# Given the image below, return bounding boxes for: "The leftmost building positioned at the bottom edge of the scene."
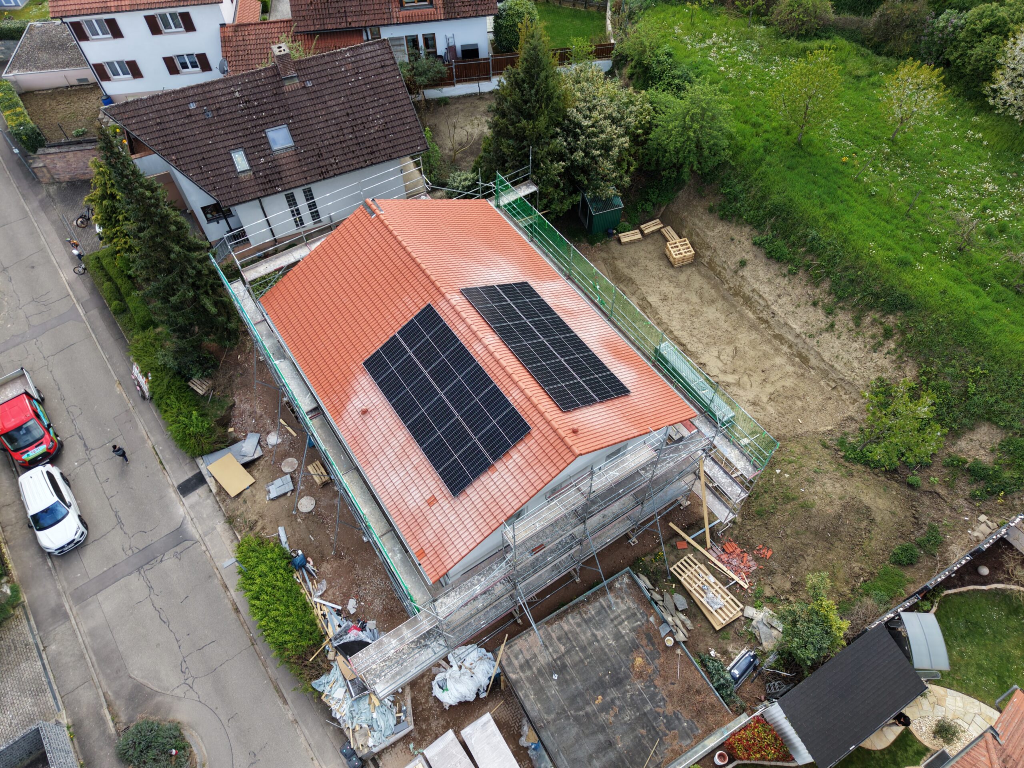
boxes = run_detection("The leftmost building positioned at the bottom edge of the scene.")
[493,566,775,768]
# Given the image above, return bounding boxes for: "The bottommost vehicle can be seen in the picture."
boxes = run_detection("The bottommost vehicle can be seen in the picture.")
[17,459,94,555]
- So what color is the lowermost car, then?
white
